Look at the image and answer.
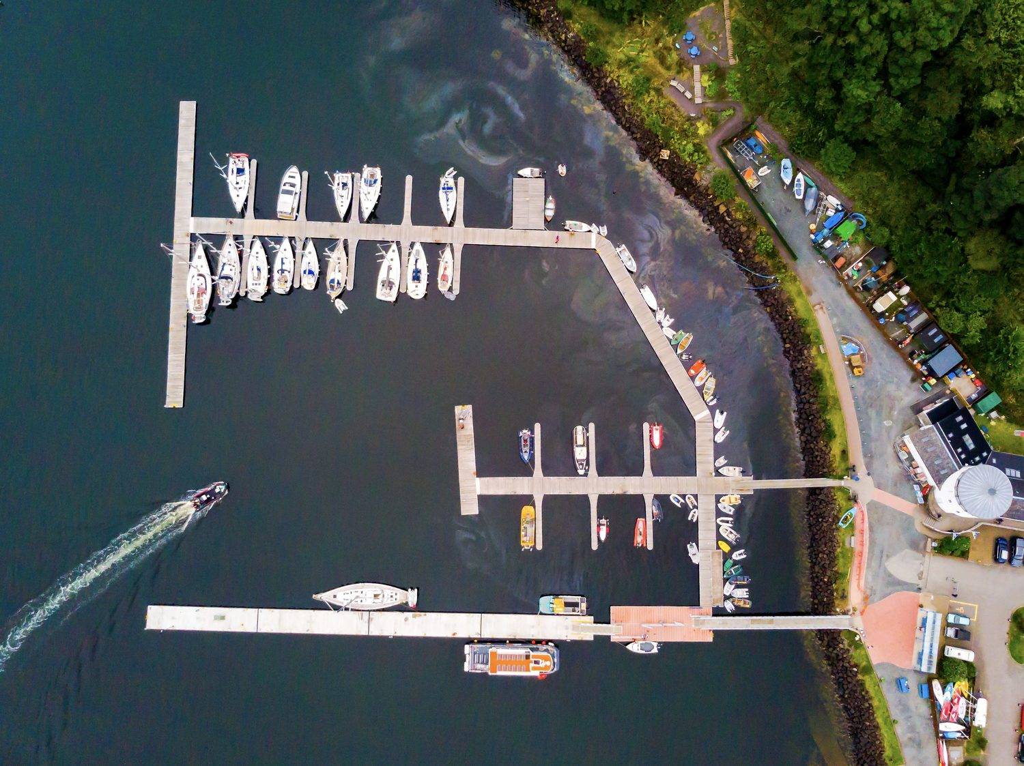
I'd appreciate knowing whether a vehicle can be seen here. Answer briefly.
Yes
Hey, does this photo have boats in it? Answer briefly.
Yes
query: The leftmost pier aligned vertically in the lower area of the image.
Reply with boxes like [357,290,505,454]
[455,405,479,515]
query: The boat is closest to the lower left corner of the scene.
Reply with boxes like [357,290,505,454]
[191,483,230,513]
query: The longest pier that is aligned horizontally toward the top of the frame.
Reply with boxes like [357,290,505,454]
[190,160,595,296]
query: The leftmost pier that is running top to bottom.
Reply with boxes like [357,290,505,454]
[164,101,197,407]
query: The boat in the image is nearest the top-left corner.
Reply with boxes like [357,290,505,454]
[205,151,252,217]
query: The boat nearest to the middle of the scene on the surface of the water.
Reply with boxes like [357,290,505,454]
[519,428,533,463]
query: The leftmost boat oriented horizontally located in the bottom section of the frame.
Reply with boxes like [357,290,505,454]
[309,582,409,612]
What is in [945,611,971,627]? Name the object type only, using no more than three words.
car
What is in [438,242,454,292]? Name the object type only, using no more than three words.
boat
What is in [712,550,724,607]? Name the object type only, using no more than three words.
pier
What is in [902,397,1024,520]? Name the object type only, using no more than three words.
building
